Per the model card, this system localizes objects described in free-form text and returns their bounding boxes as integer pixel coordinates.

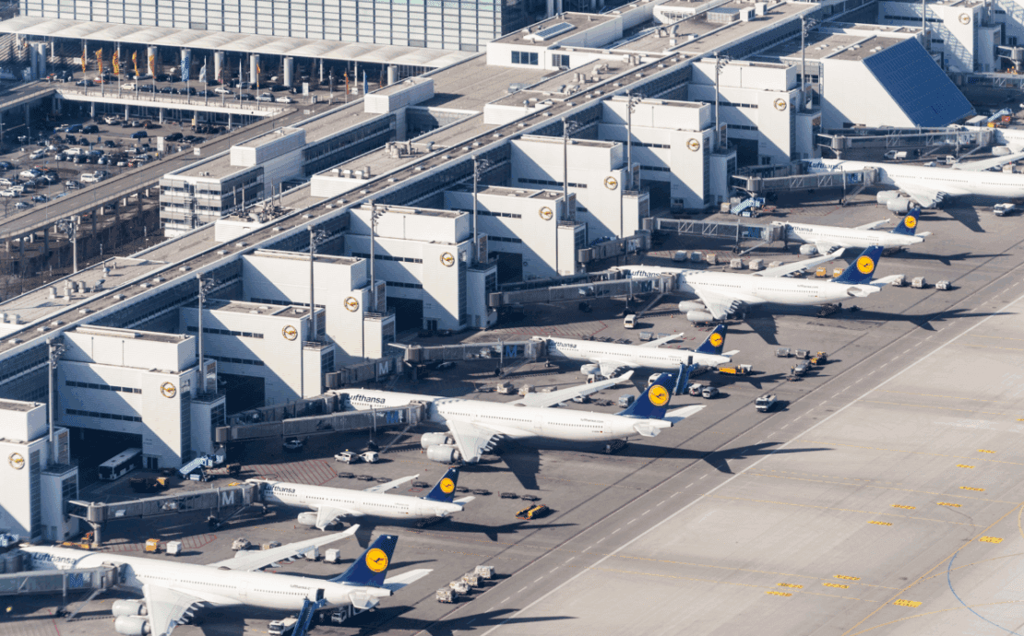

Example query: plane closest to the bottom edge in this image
[11,519,417,636]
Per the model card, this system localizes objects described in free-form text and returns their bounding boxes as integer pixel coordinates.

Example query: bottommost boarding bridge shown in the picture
[0,561,131,617]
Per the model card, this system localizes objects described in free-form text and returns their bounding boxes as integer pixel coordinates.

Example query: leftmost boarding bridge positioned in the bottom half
[0,546,28,573]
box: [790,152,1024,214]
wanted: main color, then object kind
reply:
white airplane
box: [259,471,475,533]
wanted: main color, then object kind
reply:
white airplane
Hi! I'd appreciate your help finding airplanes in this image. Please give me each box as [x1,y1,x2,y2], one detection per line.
[326,367,694,463]
[545,326,739,378]
[11,519,417,636]
[790,152,1024,214]
[259,471,475,533]
[766,209,944,258]
[614,245,898,323]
